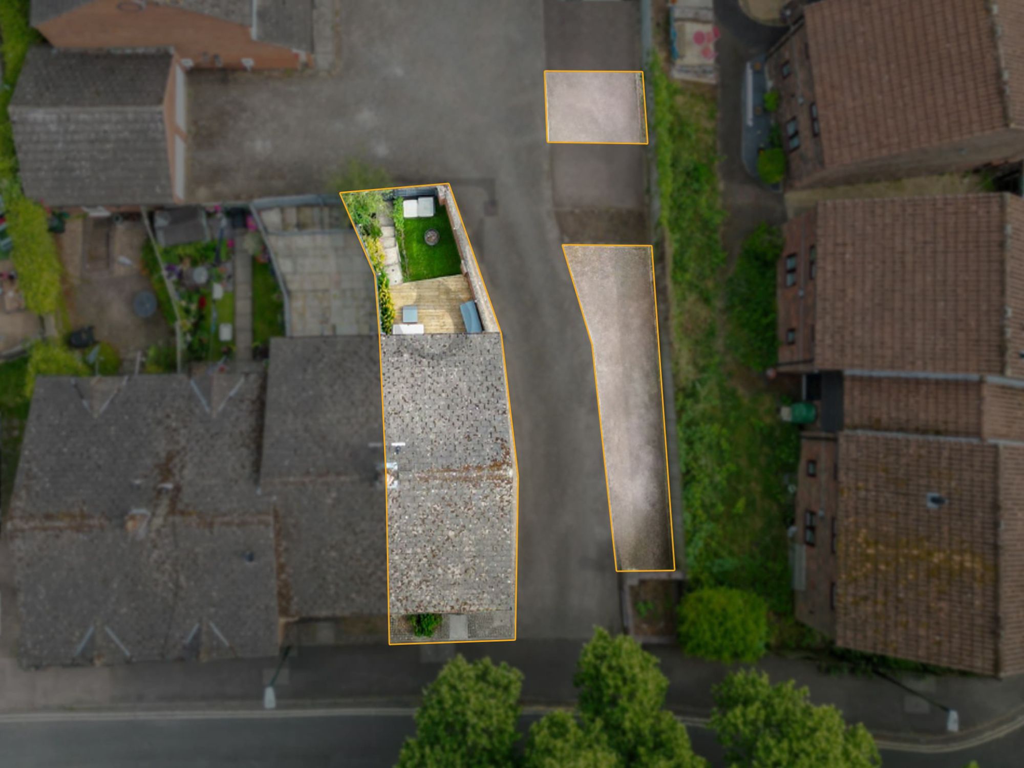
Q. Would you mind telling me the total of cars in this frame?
zero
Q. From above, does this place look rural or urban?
urban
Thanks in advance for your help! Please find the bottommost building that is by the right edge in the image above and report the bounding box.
[799,428,1024,678]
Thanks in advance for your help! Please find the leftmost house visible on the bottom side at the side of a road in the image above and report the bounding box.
[3,372,171,672]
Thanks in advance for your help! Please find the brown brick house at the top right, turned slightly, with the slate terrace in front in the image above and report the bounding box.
[767,0,1024,197]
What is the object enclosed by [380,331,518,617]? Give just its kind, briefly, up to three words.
house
